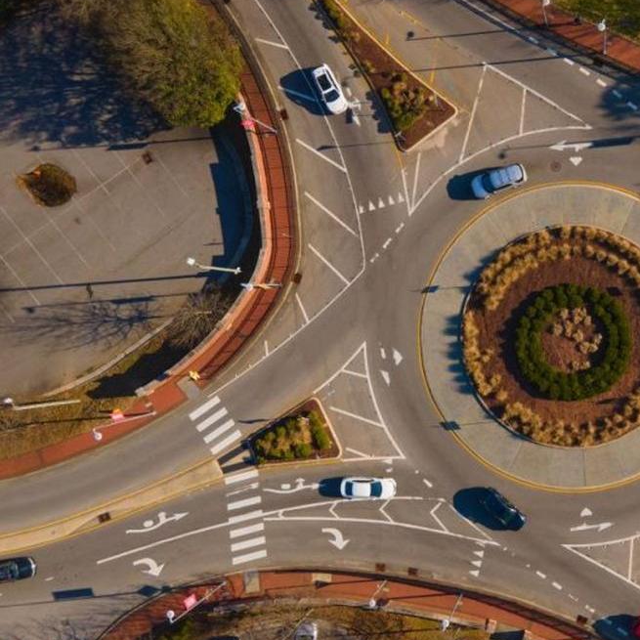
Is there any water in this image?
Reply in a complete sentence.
No, there's no water in this view.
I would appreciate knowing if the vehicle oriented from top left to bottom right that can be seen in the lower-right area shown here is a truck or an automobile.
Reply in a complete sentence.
In the photo, the vehicle oriented from top left to bottom right that can be seen in the lower-right area shows up as an automobile.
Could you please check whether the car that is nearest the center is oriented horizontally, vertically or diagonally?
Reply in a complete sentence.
The car that is nearest the center runs horizontally in the image.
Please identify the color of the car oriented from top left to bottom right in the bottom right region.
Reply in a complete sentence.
From above, the car oriented from top left to bottom right in the bottom right region appears black.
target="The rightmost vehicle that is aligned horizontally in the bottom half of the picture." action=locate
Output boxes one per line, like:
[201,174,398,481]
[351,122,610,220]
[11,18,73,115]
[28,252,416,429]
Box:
[340,475,397,500]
